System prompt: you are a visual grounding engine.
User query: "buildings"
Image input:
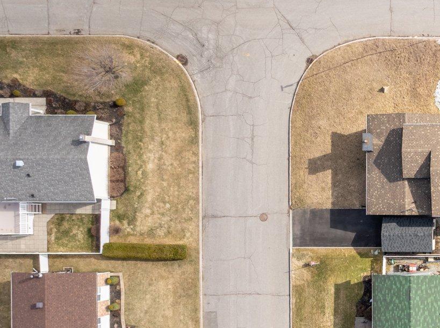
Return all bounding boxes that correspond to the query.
[11,273,112,328]
[372,275,440,328]
[0,101,114,201]
[361,113,440,217]
[380,218,436,253]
